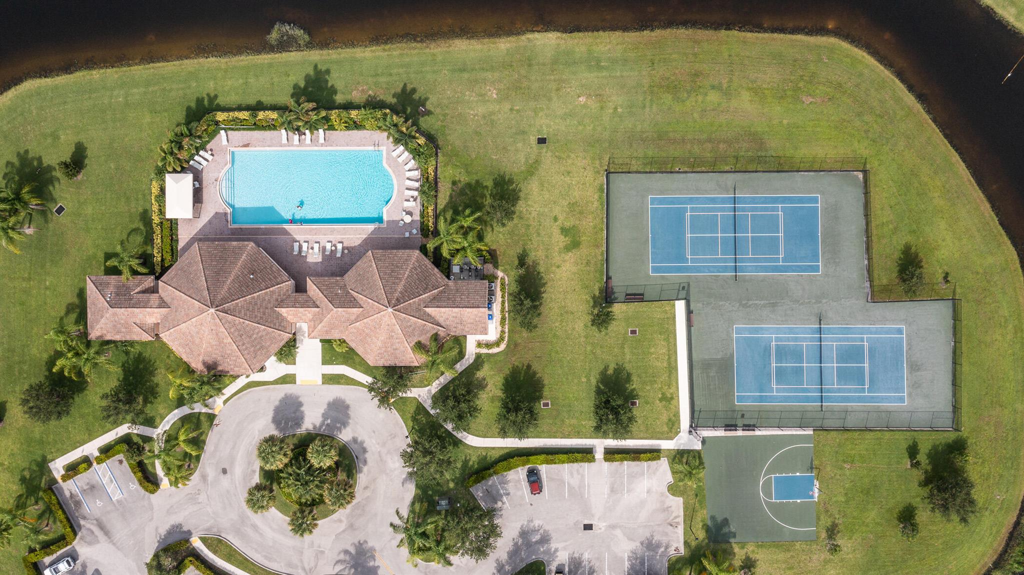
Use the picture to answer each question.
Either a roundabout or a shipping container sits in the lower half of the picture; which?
roundabout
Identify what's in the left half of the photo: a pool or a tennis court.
pool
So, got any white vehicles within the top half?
No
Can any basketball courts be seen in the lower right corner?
Yes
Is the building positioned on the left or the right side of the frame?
left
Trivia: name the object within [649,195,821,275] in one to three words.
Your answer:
tennis court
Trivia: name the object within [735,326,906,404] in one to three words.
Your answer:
tennis court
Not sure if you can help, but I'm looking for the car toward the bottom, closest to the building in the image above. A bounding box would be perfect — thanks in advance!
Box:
[526,466,542,496]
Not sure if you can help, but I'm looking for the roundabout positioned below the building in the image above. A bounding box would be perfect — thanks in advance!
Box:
[257,430,360,522]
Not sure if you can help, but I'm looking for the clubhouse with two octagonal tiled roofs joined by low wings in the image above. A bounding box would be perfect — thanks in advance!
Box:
[86,241,488,374]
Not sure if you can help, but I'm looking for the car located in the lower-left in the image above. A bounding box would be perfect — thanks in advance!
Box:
[43,555,77,575]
